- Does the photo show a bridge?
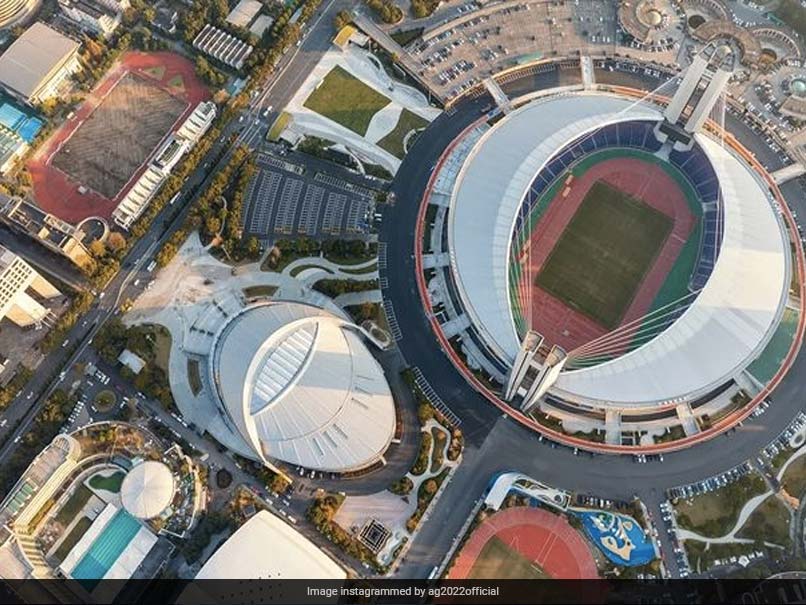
Yes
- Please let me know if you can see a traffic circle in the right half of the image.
No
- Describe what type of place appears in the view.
sports ground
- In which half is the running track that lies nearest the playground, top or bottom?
bottom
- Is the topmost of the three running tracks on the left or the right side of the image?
left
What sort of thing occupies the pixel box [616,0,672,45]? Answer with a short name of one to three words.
building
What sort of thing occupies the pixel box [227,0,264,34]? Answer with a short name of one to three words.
shed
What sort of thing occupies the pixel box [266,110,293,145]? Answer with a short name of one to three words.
building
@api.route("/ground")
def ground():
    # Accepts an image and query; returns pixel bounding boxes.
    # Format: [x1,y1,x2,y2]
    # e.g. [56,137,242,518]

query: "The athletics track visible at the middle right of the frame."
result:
[510,154,698,365]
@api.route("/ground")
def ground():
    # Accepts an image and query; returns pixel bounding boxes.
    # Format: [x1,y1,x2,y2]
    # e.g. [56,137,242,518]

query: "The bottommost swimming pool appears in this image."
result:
[62,503,157,599]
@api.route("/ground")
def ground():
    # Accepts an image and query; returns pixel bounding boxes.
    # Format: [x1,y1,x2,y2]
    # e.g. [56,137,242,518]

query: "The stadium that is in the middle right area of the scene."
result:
[411,42,806,451]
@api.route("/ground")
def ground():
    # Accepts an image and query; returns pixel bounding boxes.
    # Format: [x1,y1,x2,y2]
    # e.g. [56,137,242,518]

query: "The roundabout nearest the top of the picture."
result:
[79,378,128,425]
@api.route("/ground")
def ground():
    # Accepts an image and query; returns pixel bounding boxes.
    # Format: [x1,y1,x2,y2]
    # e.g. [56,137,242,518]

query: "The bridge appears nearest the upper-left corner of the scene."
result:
[350,5,449,106]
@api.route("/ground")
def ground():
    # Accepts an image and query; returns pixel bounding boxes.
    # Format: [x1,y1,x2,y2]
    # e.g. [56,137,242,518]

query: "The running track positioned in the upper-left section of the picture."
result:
[28,50,211,223]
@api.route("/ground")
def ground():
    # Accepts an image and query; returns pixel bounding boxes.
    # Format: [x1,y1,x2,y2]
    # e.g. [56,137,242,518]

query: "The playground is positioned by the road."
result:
[567,507,657,567]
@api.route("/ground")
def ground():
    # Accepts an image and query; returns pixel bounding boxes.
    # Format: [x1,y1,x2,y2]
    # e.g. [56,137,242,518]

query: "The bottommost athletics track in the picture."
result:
[426,511,602,605]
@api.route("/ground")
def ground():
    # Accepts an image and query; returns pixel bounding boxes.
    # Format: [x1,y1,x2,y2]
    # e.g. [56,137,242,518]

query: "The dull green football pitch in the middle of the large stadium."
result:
[532,182,675,333]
